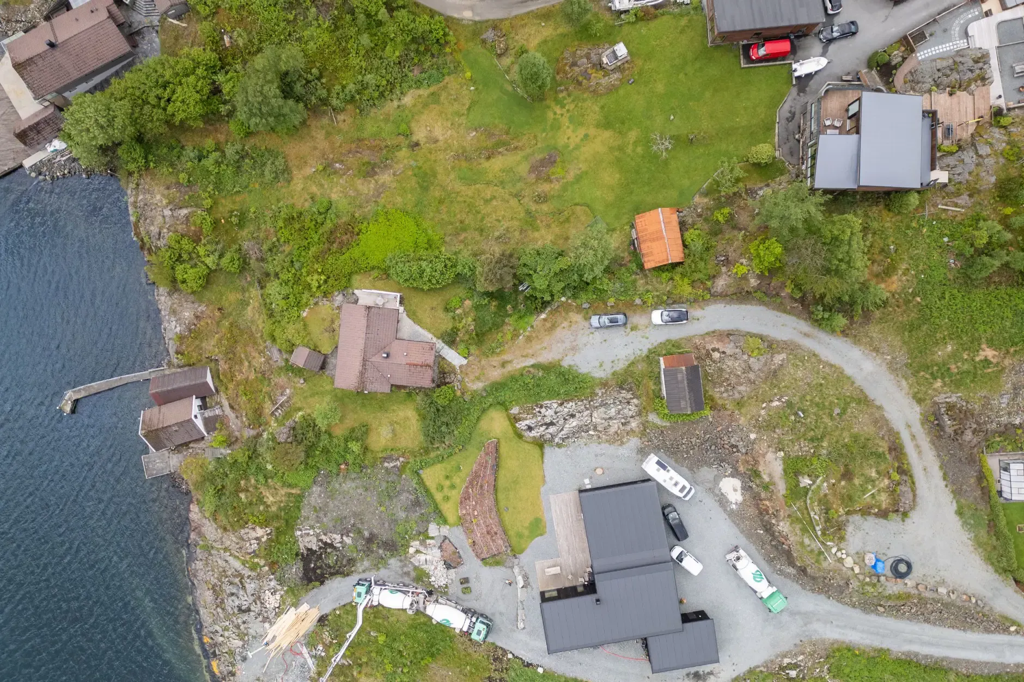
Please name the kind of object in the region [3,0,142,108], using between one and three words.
house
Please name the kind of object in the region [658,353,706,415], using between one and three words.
shed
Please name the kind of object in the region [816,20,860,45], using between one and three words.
car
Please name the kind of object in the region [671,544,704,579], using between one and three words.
van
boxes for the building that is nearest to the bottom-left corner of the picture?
[141,397,211,453]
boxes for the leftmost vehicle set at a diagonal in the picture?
[317,574,435,682]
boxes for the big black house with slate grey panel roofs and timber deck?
[539,479,720,674]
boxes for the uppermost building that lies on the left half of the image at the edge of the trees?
[146,0,203,40]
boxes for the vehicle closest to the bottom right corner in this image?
[725,546,792,617]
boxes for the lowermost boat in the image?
[789,55,834,79]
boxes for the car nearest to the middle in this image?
[589,311,628,329]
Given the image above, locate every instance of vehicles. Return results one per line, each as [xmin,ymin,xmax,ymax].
[317,574,435,682]
[423,593,497,645]
[748,38,794,62]
[662,503,690,544]
[816,20,860,45]
[671,544,704,579]
[725,546,792,617]
[640,453,691,499]
[650,307,689,326]
[589,311,628,329]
